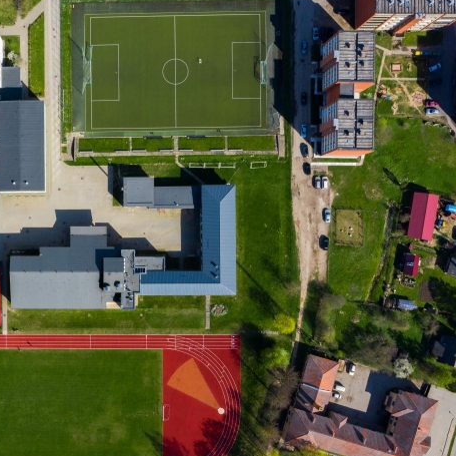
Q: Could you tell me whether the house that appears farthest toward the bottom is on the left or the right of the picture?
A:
right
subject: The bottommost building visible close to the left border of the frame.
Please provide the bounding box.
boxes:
[10,226,107,309]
